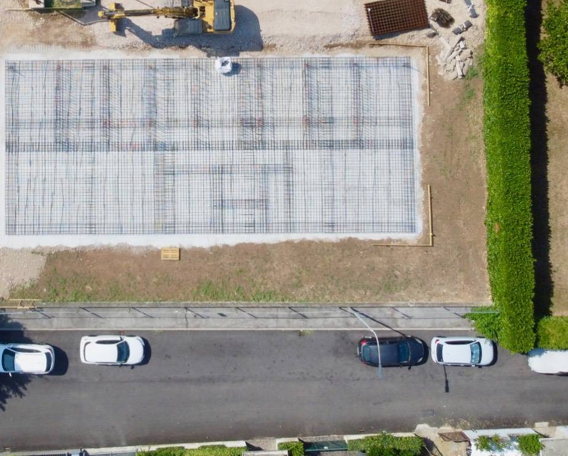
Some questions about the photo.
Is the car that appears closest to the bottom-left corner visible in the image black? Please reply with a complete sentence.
No, from above the car that appears closest to the bottom-left corner looks white.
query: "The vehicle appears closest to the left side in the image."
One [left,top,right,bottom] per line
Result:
[0,340,56,376]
